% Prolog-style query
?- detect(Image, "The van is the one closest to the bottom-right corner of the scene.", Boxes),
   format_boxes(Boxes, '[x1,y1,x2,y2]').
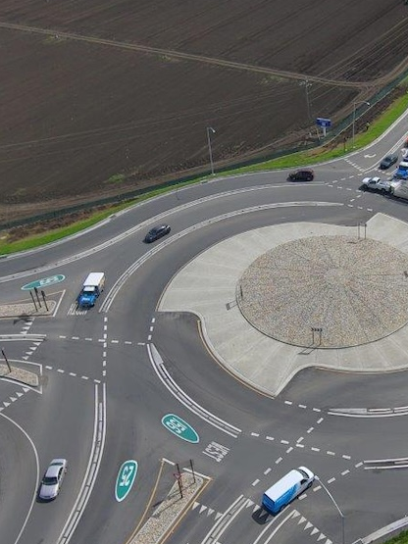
[260,475,316,521]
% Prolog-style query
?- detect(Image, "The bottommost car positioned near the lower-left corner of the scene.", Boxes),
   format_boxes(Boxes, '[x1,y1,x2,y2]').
[36,463,67,503]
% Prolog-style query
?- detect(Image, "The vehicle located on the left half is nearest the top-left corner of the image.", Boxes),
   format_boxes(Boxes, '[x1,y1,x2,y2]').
[141,223,171,245]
